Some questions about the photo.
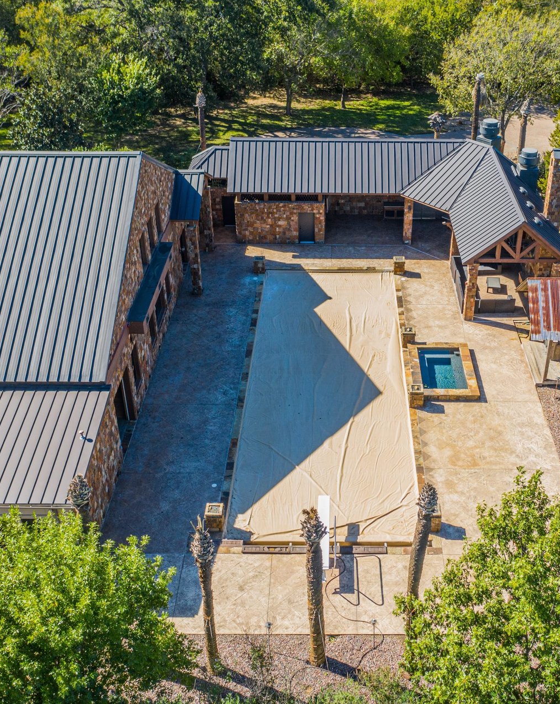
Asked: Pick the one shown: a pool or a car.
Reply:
pool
